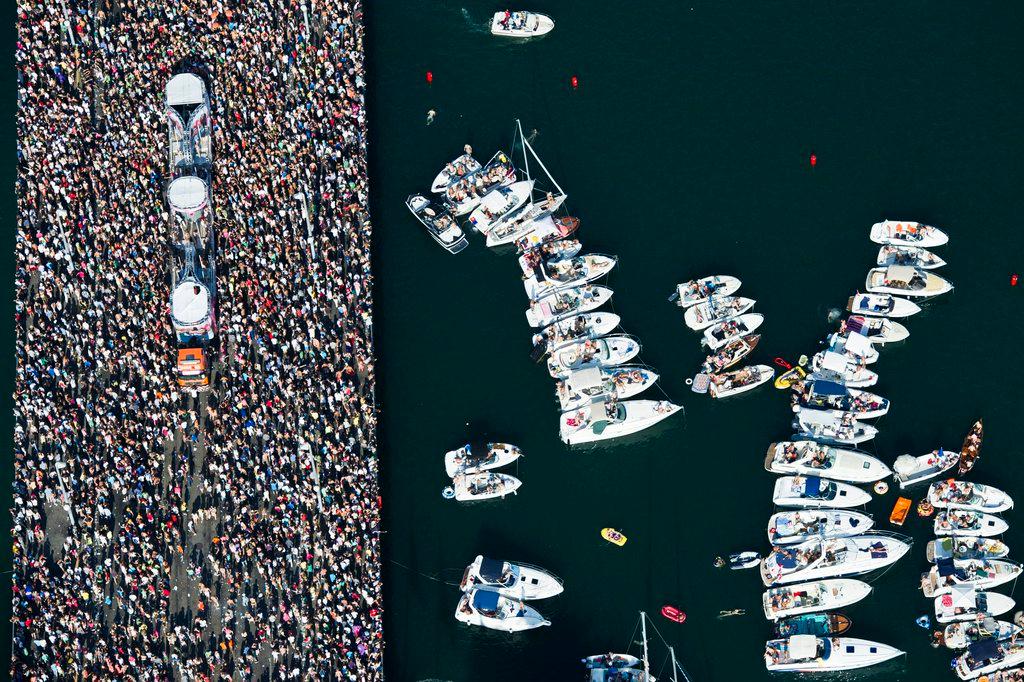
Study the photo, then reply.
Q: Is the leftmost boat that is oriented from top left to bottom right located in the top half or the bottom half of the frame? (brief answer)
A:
top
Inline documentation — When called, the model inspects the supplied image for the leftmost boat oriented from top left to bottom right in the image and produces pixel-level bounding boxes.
[406,192,463,248]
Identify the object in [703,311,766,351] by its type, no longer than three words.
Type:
boat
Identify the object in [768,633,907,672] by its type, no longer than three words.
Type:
boat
